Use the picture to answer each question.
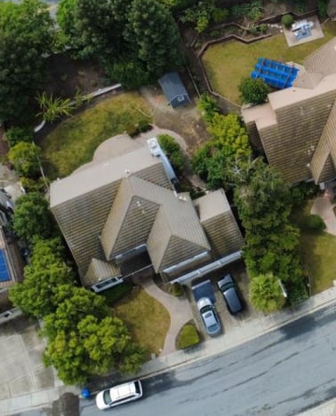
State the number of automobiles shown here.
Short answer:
3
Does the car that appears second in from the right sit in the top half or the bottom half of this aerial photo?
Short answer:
bottom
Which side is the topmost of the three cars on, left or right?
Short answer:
right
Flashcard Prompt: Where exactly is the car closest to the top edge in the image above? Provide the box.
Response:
[221,274,243,314]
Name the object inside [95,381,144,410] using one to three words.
car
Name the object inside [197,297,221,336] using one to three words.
car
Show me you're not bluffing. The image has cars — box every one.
[221,274,243,314]
[197,297,221,336]
[95,381,144,410]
